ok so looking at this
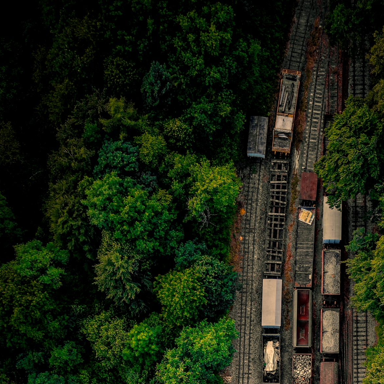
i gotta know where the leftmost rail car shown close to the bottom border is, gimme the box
[262,333,281,384]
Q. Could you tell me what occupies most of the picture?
trees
